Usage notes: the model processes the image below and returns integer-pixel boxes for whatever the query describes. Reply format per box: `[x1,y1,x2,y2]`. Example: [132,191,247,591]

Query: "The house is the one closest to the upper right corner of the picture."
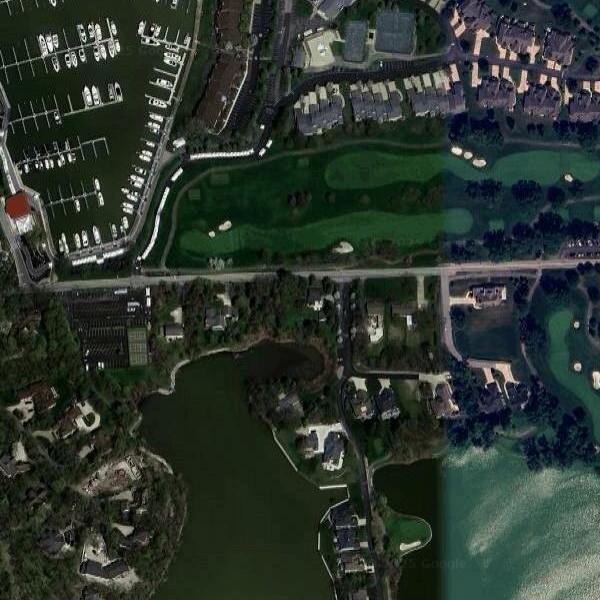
[542,29,578,64]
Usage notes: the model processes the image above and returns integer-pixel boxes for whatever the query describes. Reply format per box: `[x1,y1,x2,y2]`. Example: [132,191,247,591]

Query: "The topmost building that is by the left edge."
[5,193,28,219]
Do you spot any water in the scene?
Yes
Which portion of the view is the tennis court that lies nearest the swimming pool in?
top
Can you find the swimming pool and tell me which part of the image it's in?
top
